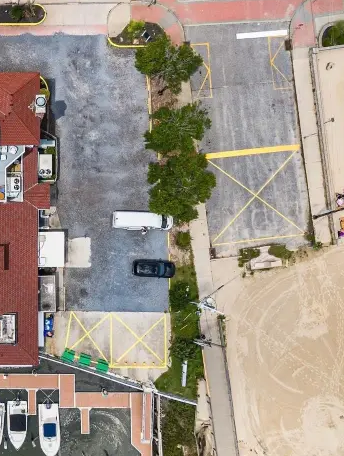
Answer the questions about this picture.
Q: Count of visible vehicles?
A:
two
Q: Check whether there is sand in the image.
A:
Yes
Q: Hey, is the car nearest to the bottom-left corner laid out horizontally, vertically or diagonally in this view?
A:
horizontally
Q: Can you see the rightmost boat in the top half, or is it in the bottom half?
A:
bottom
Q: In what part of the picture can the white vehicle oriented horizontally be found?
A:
center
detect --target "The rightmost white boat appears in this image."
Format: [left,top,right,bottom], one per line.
[38,393,60,456]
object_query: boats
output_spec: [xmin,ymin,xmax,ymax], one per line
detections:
[0,401,5,446]
[7,392,28,451]
[38,393,60,456]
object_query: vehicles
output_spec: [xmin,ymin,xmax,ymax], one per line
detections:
[131,258,173,278]
[111,211,173,232]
